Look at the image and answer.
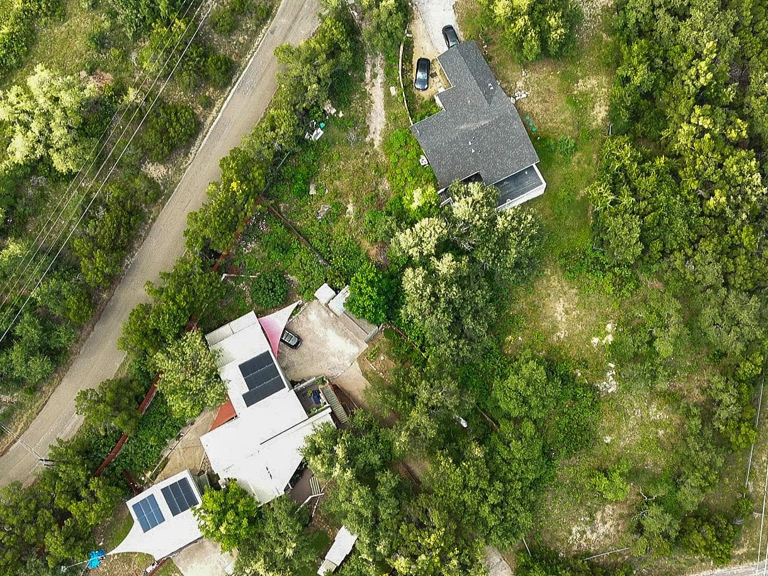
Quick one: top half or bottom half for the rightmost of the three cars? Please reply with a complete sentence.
The top half of the photo is where the rightmost of the three cars is.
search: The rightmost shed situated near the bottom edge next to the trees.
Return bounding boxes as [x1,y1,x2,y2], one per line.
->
[317,523,359,576]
